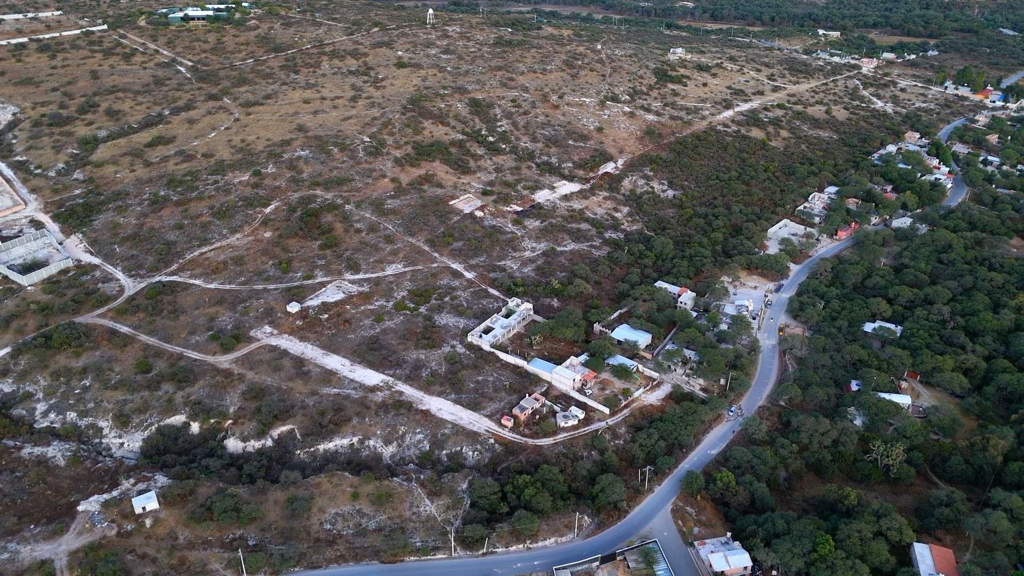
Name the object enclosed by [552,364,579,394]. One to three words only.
house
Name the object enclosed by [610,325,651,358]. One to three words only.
building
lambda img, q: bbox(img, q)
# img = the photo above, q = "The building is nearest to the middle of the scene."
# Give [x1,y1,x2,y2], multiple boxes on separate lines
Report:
[468,299,535,354]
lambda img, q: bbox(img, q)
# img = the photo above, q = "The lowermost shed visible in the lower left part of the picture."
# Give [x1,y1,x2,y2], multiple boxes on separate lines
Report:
[134,488,163,514]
